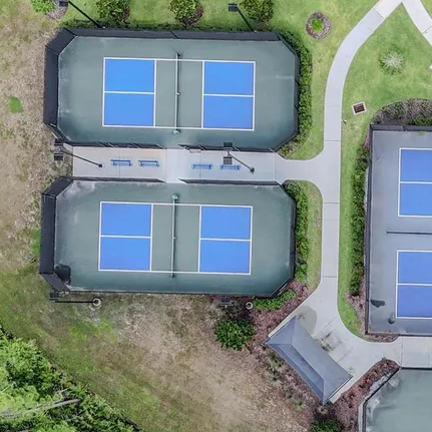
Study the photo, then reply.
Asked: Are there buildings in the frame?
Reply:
Yes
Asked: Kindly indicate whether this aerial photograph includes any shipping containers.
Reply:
No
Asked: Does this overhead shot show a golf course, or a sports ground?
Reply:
sports ground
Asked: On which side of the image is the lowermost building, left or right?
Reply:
right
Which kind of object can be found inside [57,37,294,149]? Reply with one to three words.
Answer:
sports court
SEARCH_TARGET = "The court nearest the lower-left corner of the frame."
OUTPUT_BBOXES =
[55,181,289,295]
